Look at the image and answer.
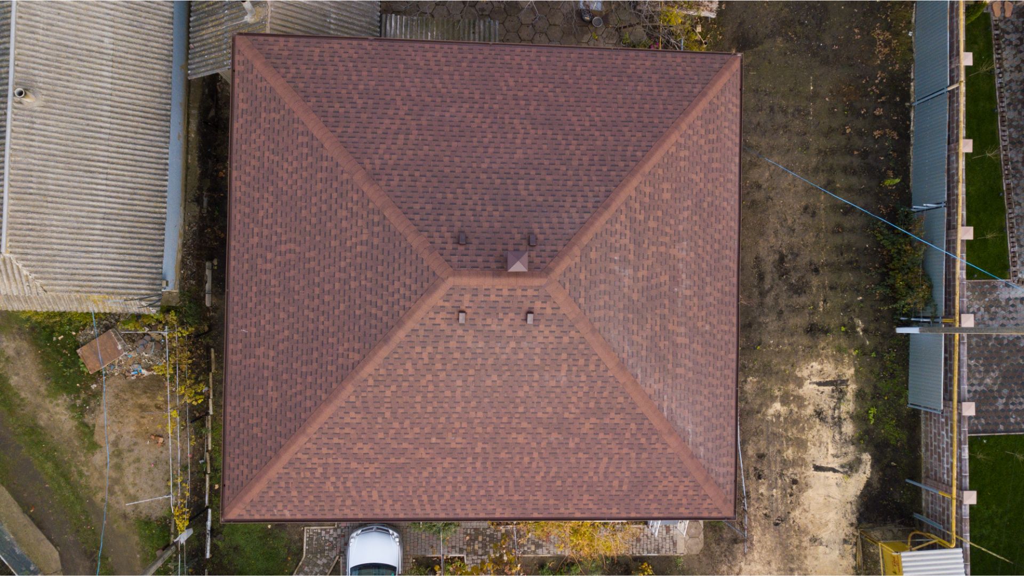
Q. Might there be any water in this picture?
No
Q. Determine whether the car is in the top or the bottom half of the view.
bottom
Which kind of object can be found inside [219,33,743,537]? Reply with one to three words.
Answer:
house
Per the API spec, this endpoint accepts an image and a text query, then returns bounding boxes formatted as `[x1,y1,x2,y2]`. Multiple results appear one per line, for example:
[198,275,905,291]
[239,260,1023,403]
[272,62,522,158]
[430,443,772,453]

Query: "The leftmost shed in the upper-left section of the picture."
[0,0,190,314]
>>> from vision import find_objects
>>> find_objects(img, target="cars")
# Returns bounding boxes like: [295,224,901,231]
[340,523,411,576]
